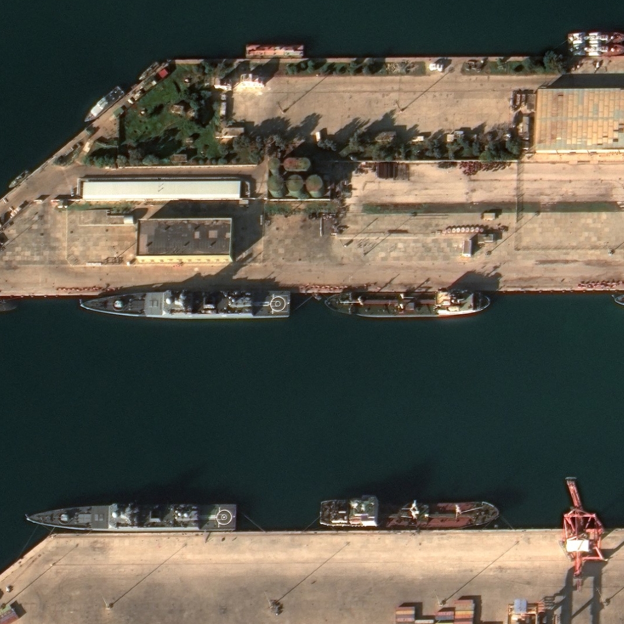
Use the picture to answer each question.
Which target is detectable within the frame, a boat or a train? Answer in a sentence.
Visible in the photo is a boat.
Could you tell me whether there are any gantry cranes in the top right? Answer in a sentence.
No, there's no gantry crane to be seen in the top right.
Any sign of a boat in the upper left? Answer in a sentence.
Yes, looking in the upper left, one can make out a boat.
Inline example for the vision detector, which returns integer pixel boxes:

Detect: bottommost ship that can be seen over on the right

[320,496,500,530]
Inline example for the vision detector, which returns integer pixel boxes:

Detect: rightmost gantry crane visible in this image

[562,479,606,596]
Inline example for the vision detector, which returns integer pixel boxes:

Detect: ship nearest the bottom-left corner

[26,502,237,532]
